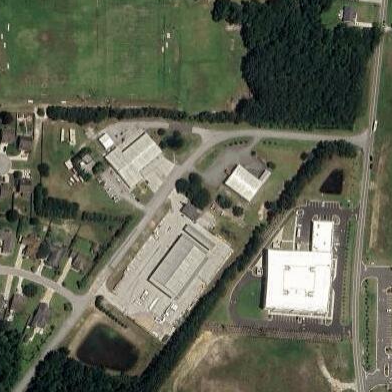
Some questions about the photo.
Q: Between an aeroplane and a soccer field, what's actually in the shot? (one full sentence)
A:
This aerial view contains a soccer field.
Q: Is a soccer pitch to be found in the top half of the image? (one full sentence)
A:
Yes, a soccer pitch is visible in the top half of the image.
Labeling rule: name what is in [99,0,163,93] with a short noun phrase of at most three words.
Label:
soccer field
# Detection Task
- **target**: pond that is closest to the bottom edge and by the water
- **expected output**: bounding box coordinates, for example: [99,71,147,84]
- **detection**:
[76,322,139,370]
